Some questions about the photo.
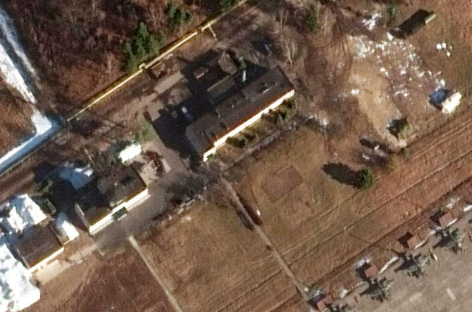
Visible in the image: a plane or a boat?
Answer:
plane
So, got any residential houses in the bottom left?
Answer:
Yes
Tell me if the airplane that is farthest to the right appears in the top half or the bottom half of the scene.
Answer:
bottom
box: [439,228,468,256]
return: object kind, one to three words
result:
airplane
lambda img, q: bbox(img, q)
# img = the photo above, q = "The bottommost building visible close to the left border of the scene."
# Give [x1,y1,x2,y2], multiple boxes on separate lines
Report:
[16,227,65,269]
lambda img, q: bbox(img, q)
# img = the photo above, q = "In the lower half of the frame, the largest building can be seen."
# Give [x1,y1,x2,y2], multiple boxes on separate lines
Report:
[75,168,151,235]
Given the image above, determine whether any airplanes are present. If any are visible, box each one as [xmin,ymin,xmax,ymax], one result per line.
[333,301,358,312]
[439,228,468,256]
[402,253,432,281]
[368,276,396,303]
